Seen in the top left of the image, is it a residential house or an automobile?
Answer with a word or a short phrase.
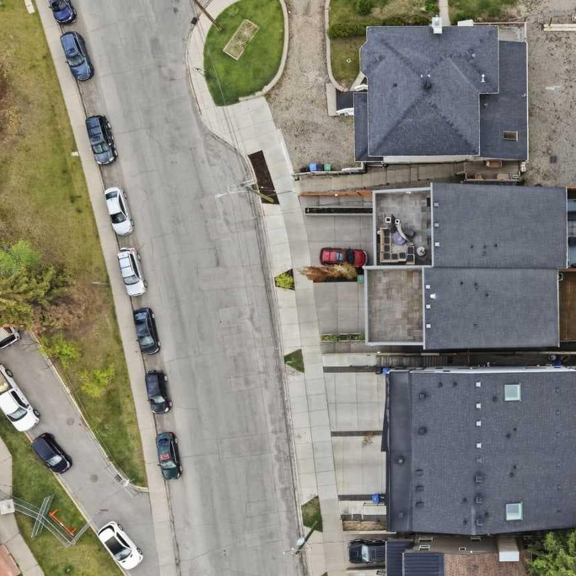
automobile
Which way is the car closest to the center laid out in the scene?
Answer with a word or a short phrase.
from side to side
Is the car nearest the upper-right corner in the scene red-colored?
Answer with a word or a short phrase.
Yes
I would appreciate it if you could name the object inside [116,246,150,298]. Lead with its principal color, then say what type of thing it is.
white car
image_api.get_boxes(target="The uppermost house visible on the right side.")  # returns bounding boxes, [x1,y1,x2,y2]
[354,8,528,163]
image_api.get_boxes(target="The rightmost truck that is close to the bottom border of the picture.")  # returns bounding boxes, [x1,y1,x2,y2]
[348,540,385,568]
